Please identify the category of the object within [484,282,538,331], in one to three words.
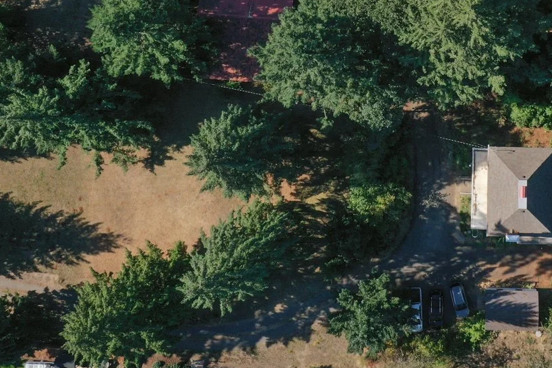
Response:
shed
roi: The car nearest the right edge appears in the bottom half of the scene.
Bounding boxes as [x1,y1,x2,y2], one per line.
[448,280,472,318]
